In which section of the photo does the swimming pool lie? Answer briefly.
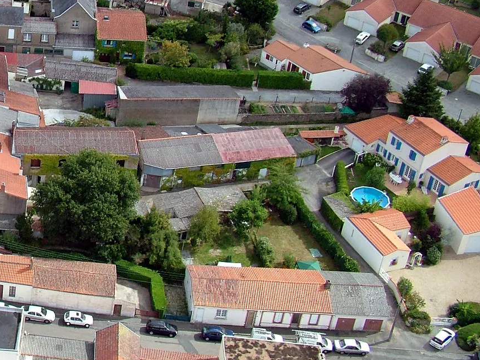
right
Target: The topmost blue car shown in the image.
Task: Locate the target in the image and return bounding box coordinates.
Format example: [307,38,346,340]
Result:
[302,19,321,33]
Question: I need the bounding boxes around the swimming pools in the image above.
[349,184,397,210]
